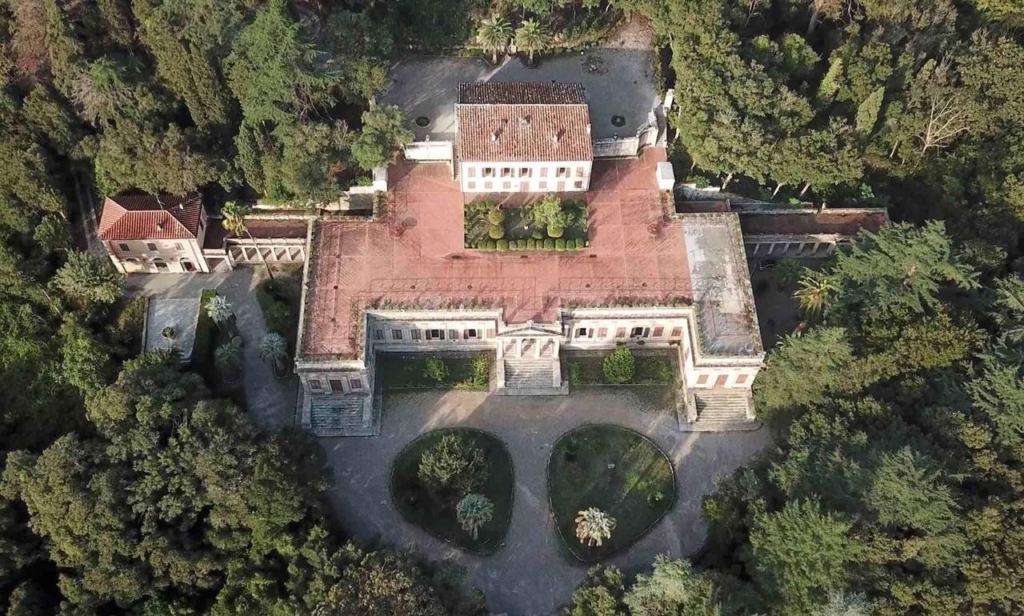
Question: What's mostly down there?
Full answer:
For the most part, this view shows trees.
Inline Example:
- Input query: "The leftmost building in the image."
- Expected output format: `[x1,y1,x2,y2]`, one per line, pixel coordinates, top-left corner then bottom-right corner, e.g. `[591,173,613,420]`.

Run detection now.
[98,189,211,274]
